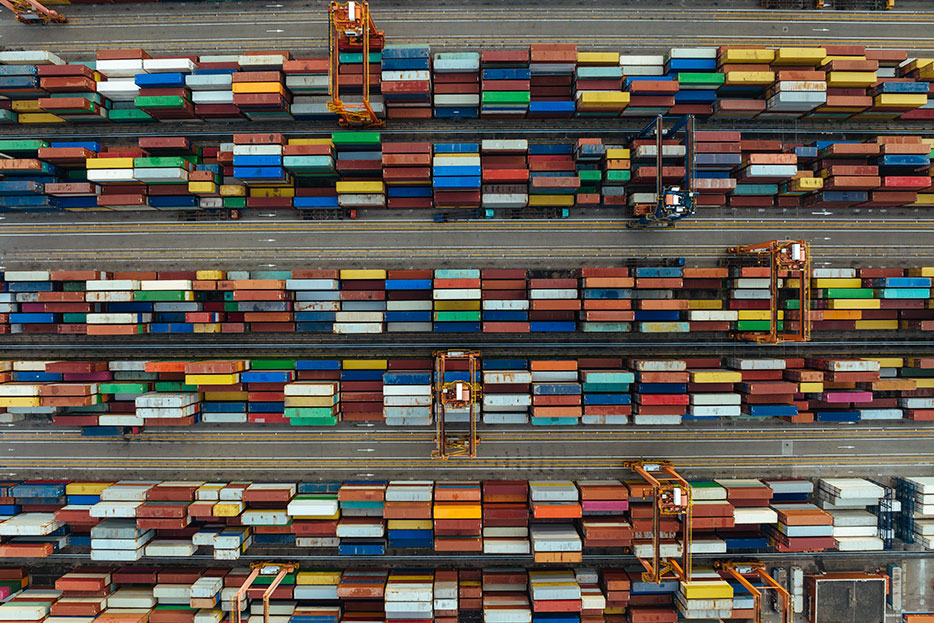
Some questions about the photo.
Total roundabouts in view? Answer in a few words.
zero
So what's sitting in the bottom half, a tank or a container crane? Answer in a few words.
container crane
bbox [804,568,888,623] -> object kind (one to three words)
building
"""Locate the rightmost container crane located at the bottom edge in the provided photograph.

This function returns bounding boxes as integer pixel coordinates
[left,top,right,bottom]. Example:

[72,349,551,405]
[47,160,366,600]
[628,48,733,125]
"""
[718,562,799,623]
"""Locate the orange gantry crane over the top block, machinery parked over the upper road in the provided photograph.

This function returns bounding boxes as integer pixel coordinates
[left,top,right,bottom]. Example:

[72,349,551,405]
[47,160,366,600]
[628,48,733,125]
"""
[326,1,386,128]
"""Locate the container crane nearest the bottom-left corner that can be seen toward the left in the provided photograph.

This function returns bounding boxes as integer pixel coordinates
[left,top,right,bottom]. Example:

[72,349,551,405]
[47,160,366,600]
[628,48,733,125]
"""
[230,564,299,623]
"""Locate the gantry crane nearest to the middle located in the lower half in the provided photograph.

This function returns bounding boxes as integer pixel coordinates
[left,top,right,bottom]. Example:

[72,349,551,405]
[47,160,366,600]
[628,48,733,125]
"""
[432,349,482,458]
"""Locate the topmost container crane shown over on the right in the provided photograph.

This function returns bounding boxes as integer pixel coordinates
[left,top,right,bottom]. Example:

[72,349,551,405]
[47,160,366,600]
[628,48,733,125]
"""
[628,112,698,227]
